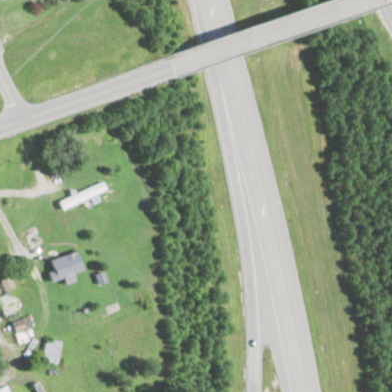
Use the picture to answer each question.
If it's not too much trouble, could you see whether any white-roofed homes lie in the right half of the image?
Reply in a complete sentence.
No, there is no white-roofed home in the right half of the image.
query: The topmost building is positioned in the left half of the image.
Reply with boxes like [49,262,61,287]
[60,180,108,210]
